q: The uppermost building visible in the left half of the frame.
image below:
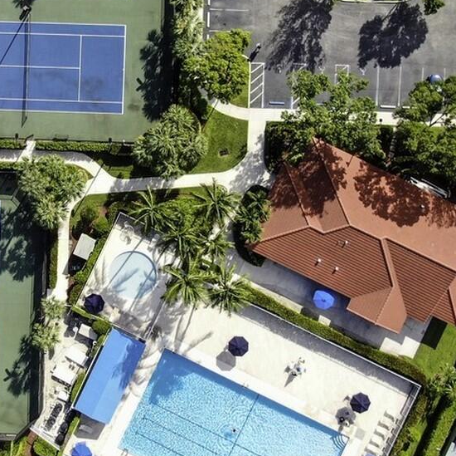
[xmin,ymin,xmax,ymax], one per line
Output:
[71,233,98,259]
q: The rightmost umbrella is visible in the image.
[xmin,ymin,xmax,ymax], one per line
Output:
[348,391,370,412]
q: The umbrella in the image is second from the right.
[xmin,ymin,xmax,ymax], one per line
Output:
[311,287,335,310]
